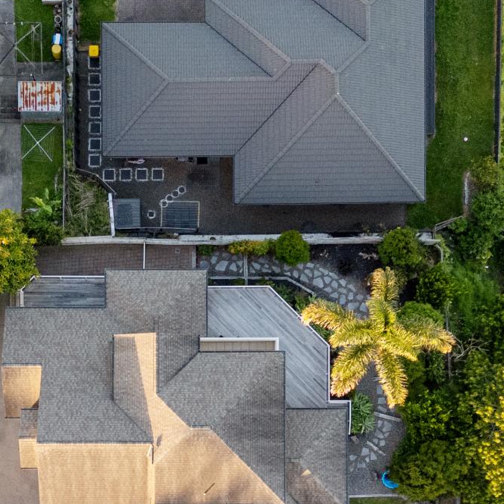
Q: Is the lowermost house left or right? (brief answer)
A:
left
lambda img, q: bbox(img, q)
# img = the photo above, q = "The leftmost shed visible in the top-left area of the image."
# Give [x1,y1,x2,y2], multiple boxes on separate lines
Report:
[18,82,65,123]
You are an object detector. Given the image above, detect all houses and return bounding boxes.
[99,0,427,206]
[1,267,350,504]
